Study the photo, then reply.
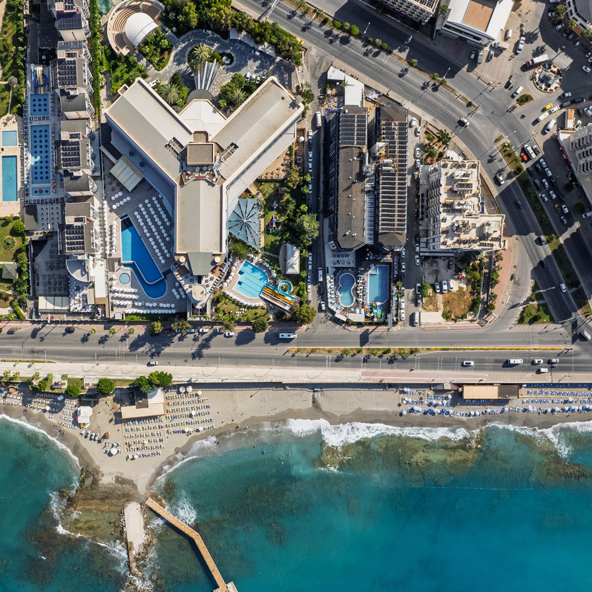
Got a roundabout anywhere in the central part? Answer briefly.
No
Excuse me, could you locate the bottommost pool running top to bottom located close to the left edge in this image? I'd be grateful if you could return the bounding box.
[1,155,19,202]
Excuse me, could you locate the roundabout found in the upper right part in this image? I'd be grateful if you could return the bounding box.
[534,63,562,92]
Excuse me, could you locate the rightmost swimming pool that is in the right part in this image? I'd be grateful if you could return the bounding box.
[368,264,390,304]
